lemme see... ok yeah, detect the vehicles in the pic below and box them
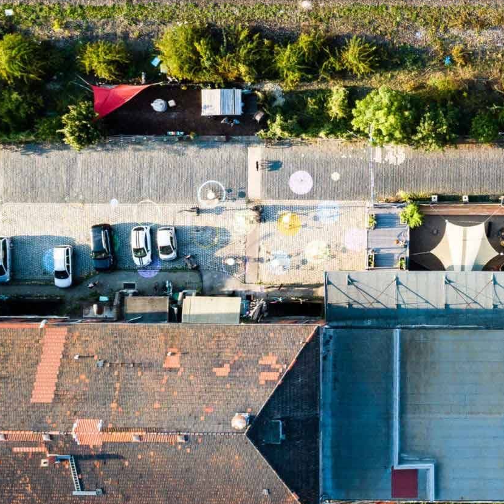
[88,223,117,271]
[0,237,13,283]
[49,245,74,288]
[128,226,155,268]
[154,226,179,261]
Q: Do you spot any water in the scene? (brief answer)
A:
No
